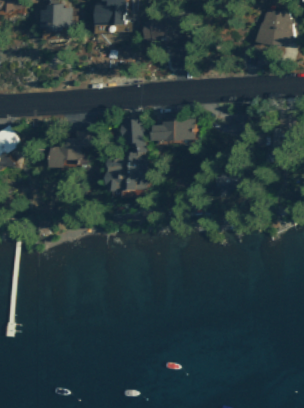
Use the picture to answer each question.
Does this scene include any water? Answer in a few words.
Yes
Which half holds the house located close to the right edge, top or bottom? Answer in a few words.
top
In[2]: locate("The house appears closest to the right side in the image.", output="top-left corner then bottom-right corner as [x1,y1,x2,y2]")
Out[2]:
[256,12,298,62]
